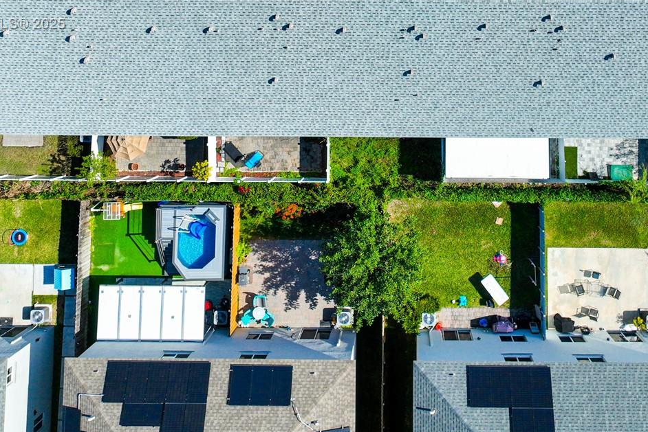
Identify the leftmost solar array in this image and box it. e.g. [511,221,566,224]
[62,406,81,432]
